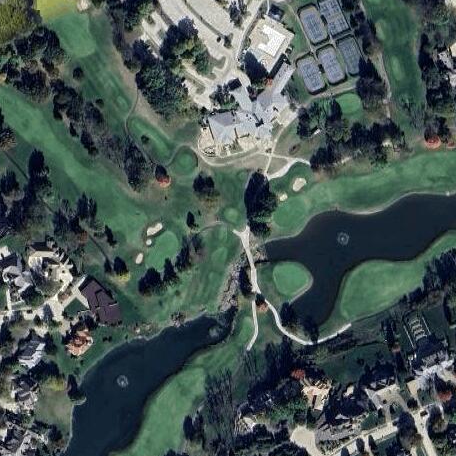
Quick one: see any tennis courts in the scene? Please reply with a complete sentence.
Yes, there's a tennis court down there.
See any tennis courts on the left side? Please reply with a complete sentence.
No, I can find no tennis court on the left side.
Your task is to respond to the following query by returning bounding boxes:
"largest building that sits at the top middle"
[203,57,301,145]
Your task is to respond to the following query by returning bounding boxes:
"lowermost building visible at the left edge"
[0,421,52,456]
